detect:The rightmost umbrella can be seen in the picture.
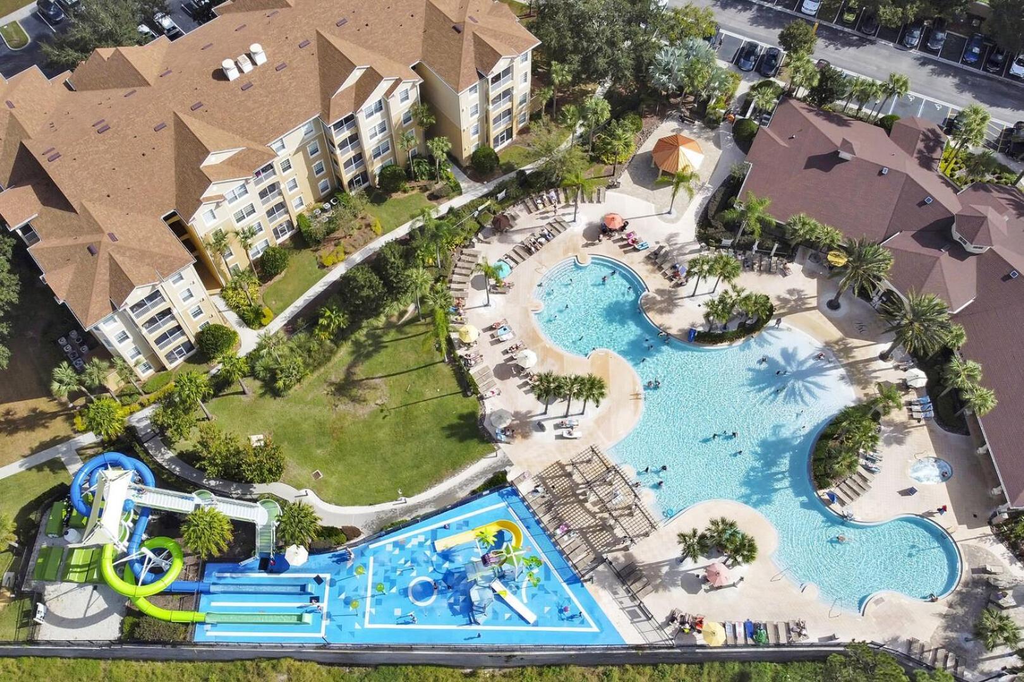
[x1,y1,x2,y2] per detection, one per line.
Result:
[900,366,929,393]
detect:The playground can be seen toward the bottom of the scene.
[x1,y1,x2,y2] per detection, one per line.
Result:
[437,517,537,625]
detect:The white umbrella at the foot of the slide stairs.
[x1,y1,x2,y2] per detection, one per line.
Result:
[283,543,311,571]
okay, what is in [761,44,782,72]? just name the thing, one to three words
car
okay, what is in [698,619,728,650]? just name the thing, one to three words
umbrella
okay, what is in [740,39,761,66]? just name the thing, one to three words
car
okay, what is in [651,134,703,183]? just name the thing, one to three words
gazebo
